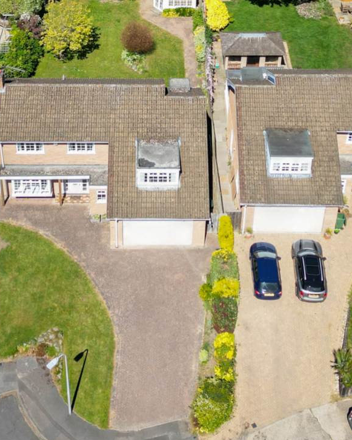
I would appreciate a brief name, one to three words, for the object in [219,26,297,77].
building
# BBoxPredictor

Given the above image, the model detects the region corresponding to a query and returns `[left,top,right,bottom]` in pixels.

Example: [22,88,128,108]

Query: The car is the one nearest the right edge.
[290,239,329,300]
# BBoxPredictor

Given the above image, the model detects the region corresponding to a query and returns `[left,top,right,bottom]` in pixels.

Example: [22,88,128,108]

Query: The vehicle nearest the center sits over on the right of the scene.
[246,243,283,300]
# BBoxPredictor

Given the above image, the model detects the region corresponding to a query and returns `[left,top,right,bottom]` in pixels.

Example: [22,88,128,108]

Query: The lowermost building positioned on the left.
[0,60,211,246]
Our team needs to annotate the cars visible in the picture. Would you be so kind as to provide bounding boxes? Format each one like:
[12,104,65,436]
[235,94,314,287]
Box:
[246,243,283,300]
[290,239,329,300]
